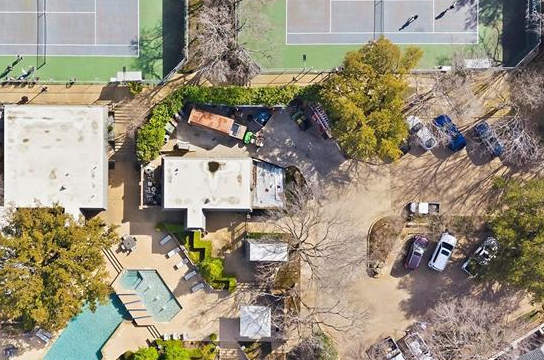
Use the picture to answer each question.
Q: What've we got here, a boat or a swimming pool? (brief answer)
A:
swimming pool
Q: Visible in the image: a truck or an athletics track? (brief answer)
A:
truck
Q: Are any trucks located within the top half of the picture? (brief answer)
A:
Yes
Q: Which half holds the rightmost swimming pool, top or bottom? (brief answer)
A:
bottom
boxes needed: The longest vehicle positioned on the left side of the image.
[187,107,245,141]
